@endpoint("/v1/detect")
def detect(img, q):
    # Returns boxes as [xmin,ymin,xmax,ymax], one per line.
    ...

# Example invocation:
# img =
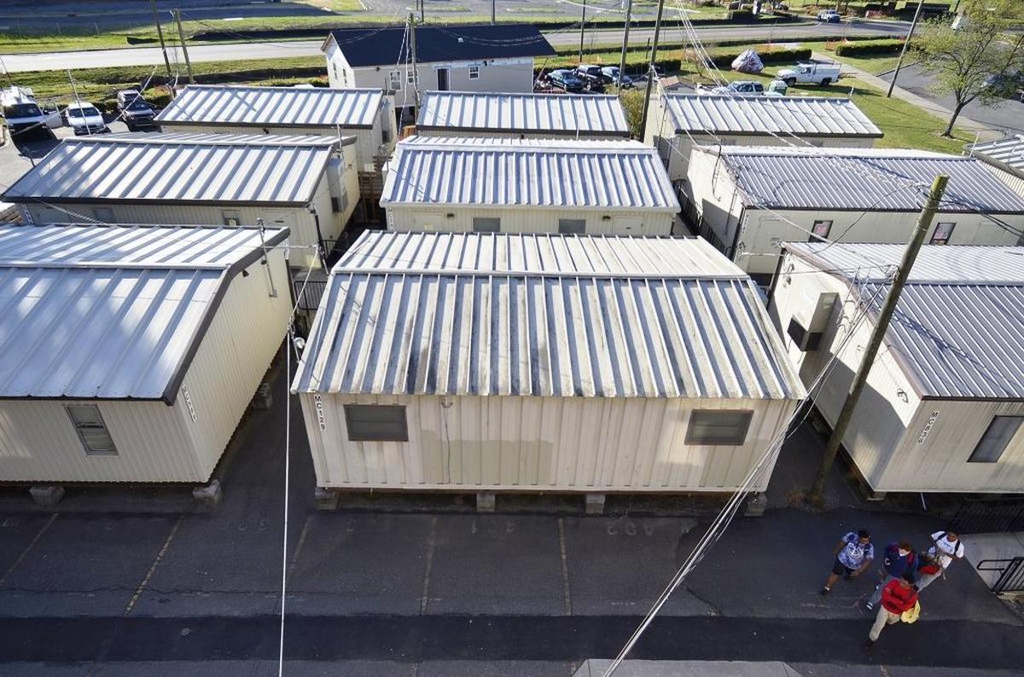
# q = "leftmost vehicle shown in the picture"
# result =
[0,78,73,136]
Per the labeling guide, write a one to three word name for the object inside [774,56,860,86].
truck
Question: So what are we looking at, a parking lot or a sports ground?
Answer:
parking lot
